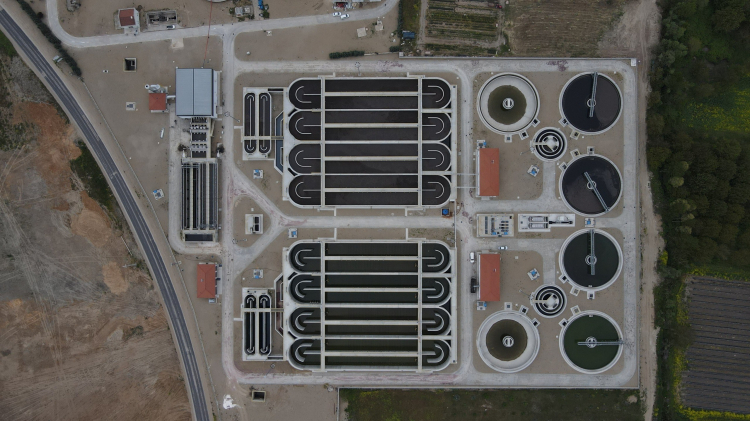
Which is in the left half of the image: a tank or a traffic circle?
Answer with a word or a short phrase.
tank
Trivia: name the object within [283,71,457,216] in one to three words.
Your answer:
storage tank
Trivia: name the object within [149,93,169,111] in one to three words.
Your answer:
building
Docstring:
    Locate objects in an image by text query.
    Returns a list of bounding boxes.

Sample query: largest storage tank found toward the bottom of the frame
[283,228,457,372]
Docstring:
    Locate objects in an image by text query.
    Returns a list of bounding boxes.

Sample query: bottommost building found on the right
[478,253,500,301]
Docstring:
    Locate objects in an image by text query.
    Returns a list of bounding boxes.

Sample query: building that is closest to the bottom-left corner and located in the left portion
[197,264,218,299]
